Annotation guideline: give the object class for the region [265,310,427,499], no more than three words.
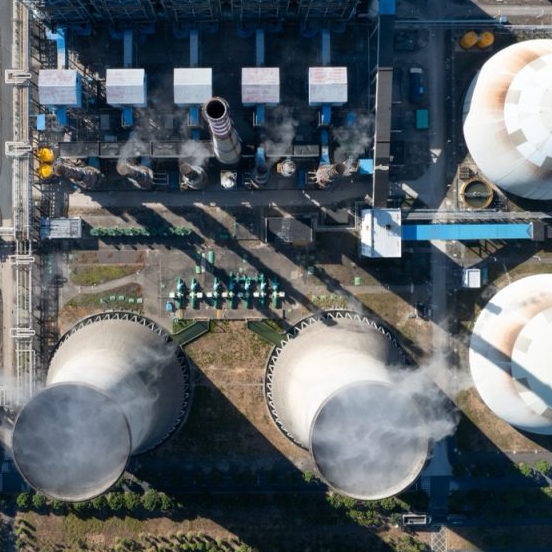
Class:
cooling tower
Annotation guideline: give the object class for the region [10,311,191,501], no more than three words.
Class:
cooling tower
